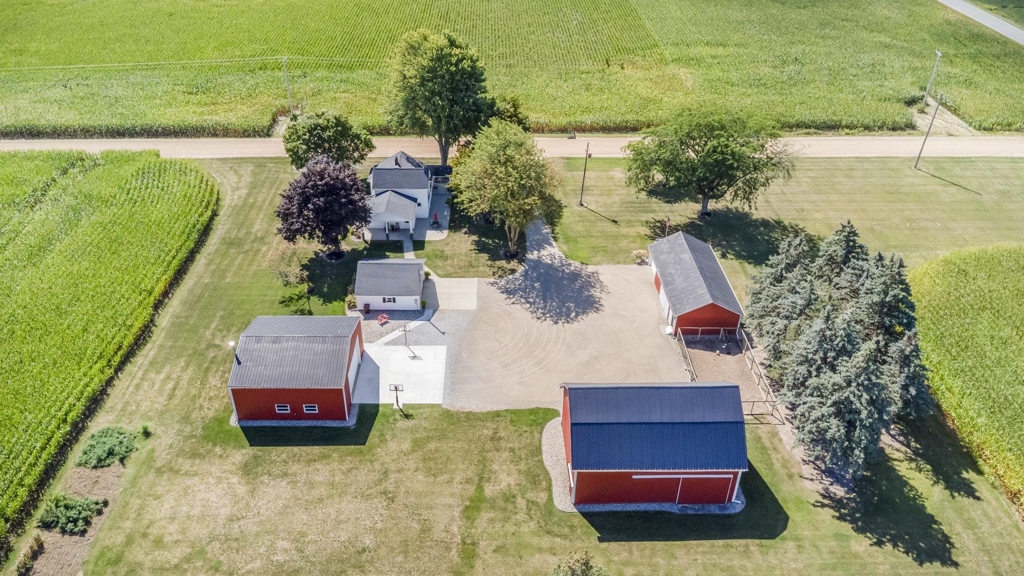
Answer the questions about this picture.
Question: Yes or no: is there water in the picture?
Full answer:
No, water can't be seen anywhere here.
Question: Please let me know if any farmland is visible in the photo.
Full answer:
Yes, farmland shows up in the scene.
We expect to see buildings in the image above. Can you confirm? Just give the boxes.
[360,149,455,240]
[227,316,363,422]
[559,383,748,503]
[647,231,746,338]
[353,259,426,310]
